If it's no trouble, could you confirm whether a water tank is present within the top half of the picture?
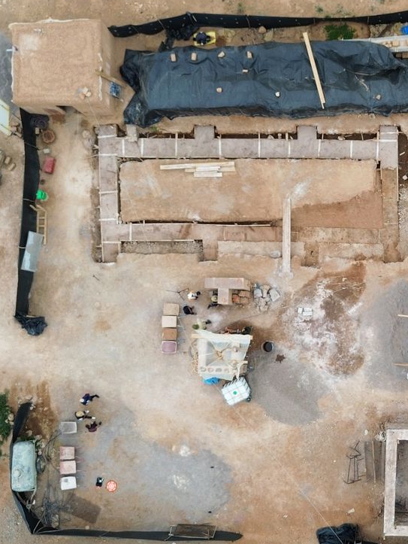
No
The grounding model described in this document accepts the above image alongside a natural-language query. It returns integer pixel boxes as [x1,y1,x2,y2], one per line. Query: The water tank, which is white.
[220,374,253,402]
